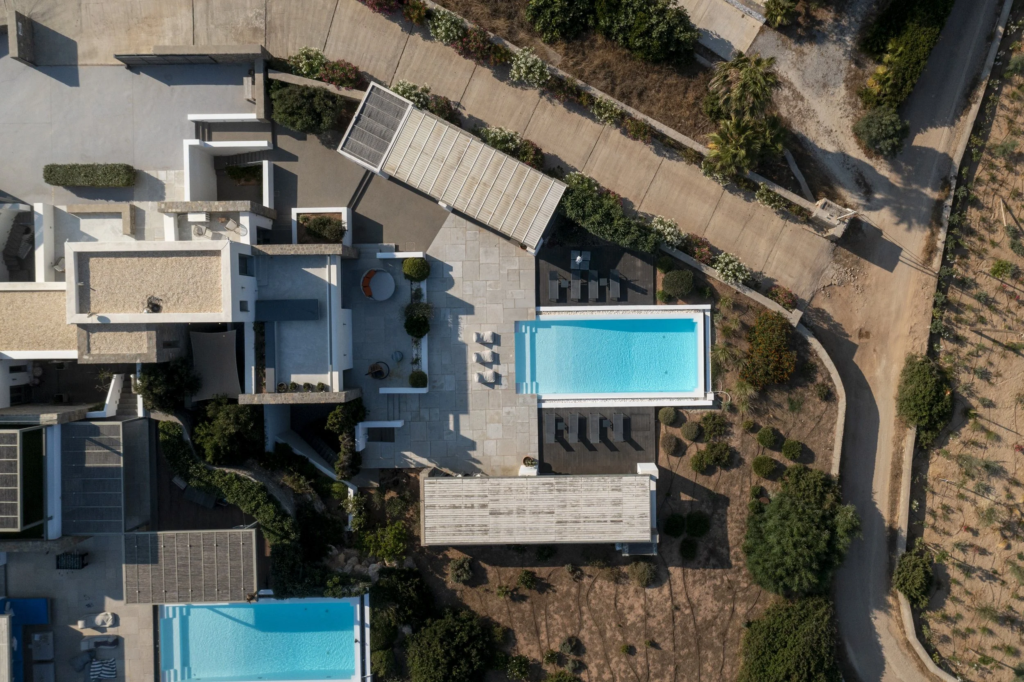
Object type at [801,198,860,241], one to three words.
shed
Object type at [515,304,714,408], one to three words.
swimming pool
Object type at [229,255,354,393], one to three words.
house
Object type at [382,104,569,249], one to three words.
building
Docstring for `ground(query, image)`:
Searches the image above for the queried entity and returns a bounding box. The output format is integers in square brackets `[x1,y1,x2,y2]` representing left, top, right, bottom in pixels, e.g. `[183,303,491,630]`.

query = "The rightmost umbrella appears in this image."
[571,250,591,270]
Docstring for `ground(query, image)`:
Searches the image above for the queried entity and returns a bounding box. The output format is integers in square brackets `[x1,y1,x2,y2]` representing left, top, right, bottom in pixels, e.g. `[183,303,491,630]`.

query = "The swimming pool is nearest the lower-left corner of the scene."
[147,587,371,682]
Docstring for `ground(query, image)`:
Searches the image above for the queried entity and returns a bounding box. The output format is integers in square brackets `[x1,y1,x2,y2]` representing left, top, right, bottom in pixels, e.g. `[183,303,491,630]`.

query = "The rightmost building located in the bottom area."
[420,464,659,546]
